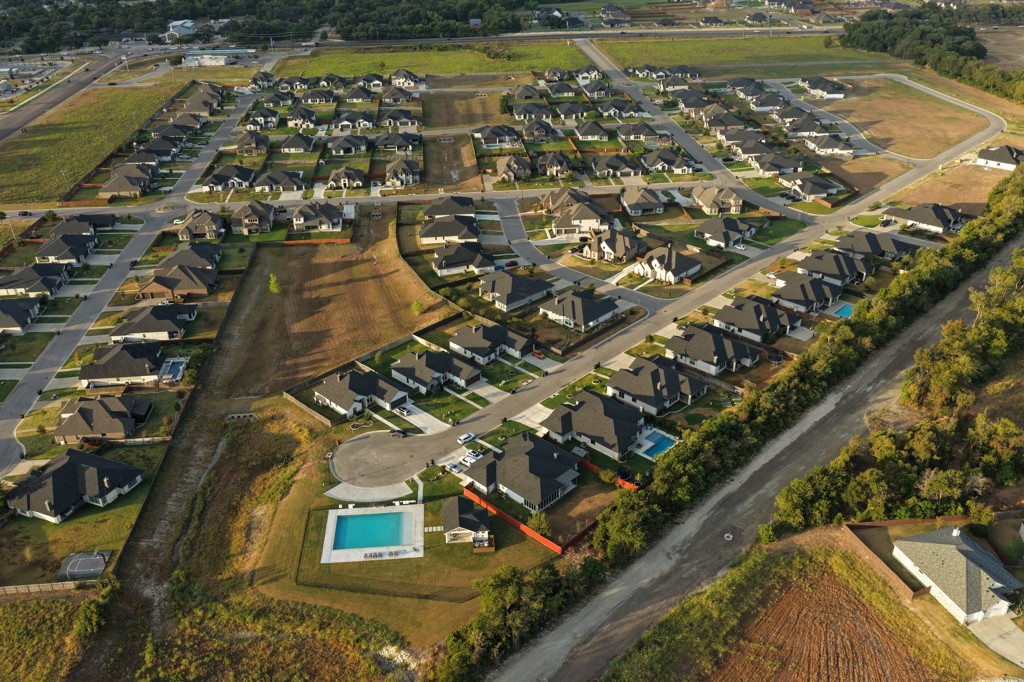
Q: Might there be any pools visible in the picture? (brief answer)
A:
Yes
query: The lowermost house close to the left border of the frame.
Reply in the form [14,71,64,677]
[4,440,137,537]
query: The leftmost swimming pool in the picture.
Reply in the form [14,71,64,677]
[161,357,190,381]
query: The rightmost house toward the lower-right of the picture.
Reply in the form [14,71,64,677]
[886,517,1024,626]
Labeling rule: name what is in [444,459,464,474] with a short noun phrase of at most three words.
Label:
car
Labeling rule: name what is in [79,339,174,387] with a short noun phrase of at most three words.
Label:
house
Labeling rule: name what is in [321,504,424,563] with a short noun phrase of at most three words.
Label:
swimming pool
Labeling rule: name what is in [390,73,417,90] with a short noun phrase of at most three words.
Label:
house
